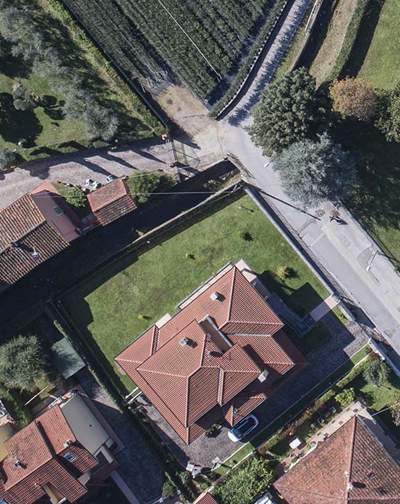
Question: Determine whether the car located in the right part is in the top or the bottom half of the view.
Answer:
bottom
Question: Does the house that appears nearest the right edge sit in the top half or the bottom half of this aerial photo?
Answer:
bottom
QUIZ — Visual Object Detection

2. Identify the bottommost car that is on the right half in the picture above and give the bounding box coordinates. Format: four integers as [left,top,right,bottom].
[224,415,258,445]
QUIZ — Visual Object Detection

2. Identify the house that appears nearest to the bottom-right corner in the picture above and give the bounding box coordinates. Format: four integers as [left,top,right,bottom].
[273,399,400,504]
